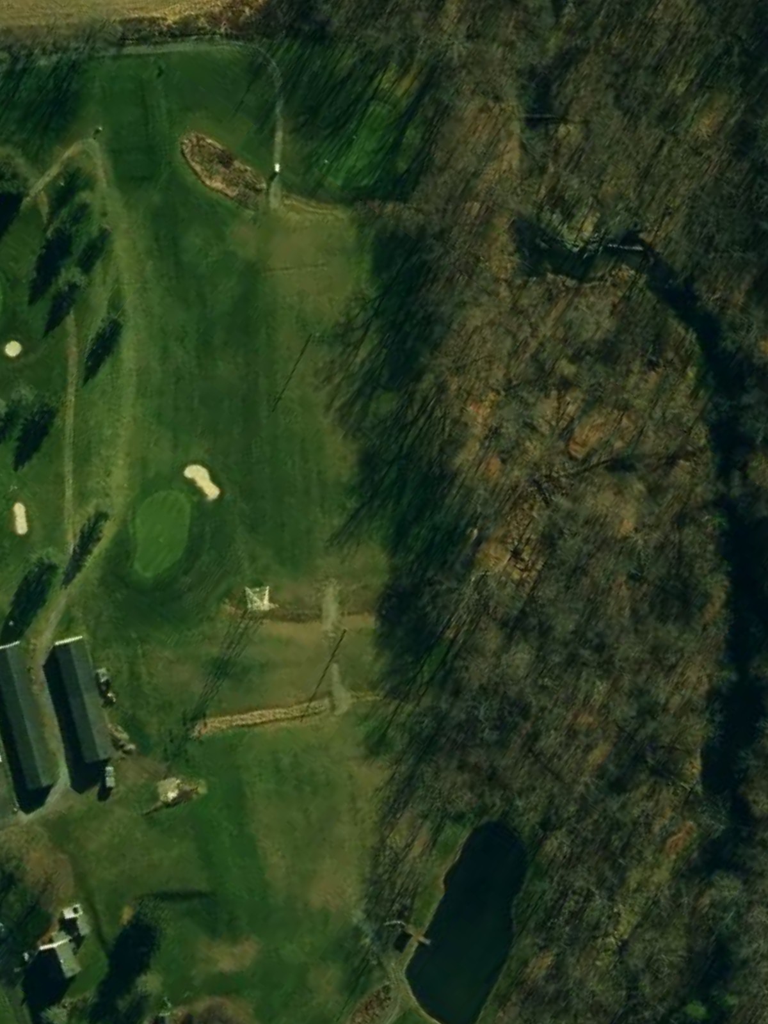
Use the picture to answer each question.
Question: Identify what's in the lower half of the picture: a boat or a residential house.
residential house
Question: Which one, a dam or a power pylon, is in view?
power pylon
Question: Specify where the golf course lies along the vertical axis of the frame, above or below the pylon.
above it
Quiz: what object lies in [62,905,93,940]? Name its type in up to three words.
house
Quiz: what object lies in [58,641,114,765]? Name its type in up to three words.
barn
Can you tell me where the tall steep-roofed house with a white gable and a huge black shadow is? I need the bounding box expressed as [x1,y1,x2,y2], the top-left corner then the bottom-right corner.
[42,929,84,981]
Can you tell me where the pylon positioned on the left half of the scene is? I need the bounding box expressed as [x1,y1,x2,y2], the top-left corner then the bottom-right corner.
[244,585,275,612]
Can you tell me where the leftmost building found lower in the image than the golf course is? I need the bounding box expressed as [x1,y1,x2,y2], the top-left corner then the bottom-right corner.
[0,646,59,793]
